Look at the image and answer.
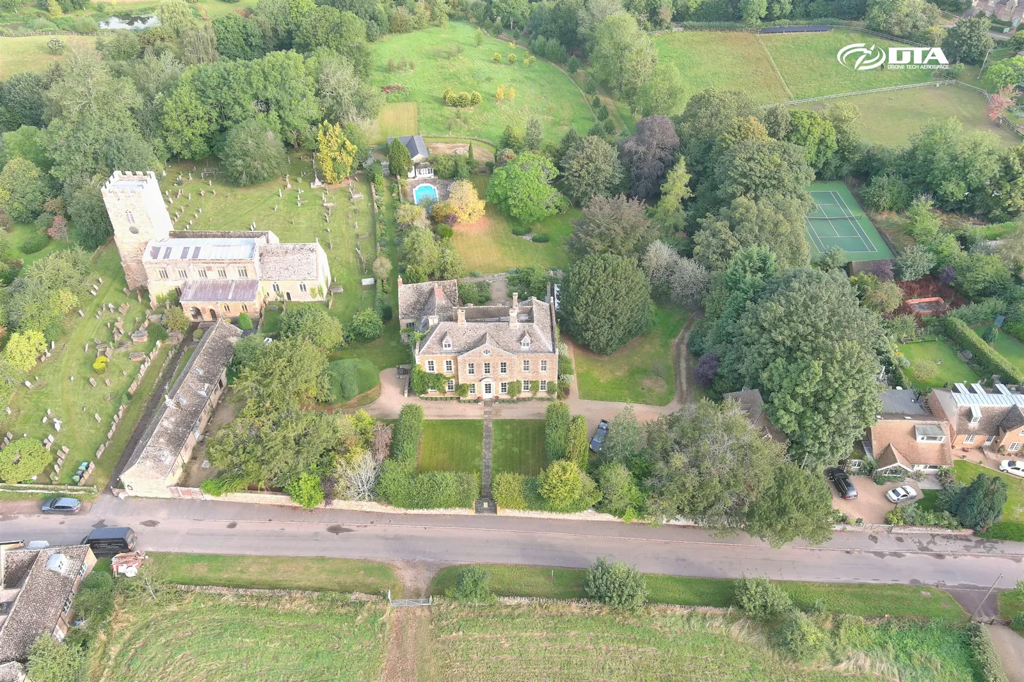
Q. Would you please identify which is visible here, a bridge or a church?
church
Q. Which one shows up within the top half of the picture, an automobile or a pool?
pool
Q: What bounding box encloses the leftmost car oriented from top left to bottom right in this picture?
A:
[828,468,861,499]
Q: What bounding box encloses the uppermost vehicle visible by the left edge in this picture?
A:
[39,497,81,515]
